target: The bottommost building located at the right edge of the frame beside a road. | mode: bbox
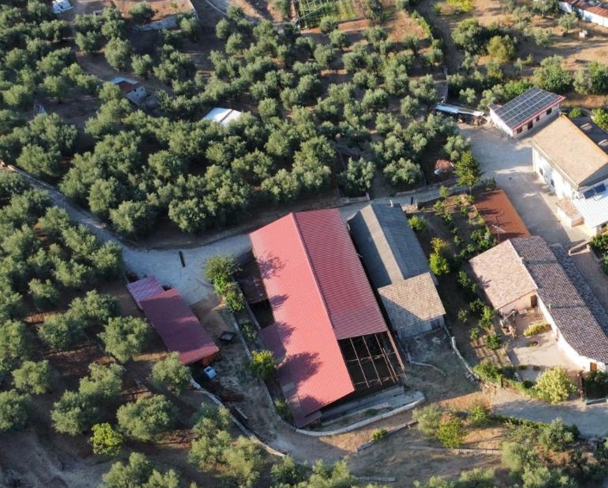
[469,236,608,380]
